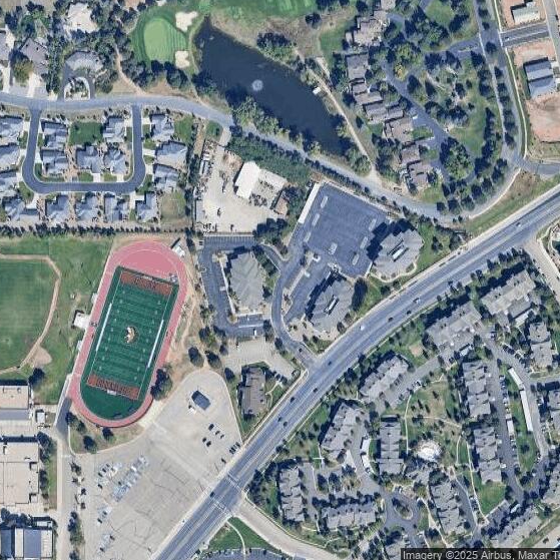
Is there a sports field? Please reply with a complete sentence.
Yes, looking at the shot, I can spot a sports field.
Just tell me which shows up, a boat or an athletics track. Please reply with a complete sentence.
Of the two, only an athletics track appears.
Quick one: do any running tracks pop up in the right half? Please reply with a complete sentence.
No, I see no running track in the right half.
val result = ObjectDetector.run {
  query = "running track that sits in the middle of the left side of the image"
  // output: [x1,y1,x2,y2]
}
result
[69,240,187,427]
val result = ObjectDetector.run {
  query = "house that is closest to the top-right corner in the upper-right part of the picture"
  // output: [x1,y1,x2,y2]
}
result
[513,8,539,23]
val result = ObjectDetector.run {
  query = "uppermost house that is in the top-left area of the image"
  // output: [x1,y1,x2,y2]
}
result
[64,2,96,34]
